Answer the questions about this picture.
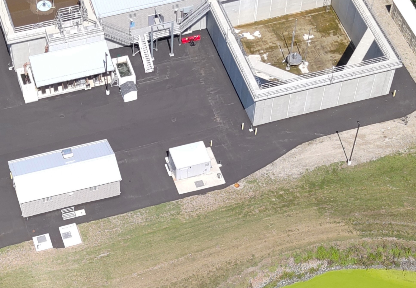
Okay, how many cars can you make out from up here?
0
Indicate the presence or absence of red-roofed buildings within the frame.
No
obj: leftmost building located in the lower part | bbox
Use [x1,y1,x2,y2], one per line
[9,139,122,218]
